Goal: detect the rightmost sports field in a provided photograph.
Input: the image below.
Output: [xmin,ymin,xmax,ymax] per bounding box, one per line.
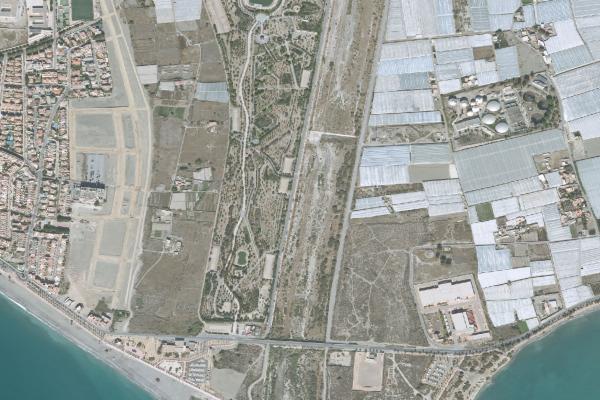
[352,352,383,392]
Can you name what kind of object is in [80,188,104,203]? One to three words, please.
building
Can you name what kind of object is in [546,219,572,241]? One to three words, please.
greenhouse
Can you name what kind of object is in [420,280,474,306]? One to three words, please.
building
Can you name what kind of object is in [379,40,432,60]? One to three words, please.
greenhouse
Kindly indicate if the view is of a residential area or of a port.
residential area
